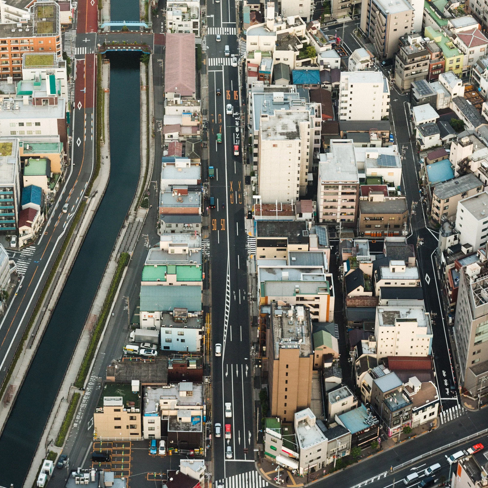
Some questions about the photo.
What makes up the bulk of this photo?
buildings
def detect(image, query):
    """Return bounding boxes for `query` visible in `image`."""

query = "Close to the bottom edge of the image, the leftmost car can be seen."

[55,453,69,470]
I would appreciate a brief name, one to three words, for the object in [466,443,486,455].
vehicle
